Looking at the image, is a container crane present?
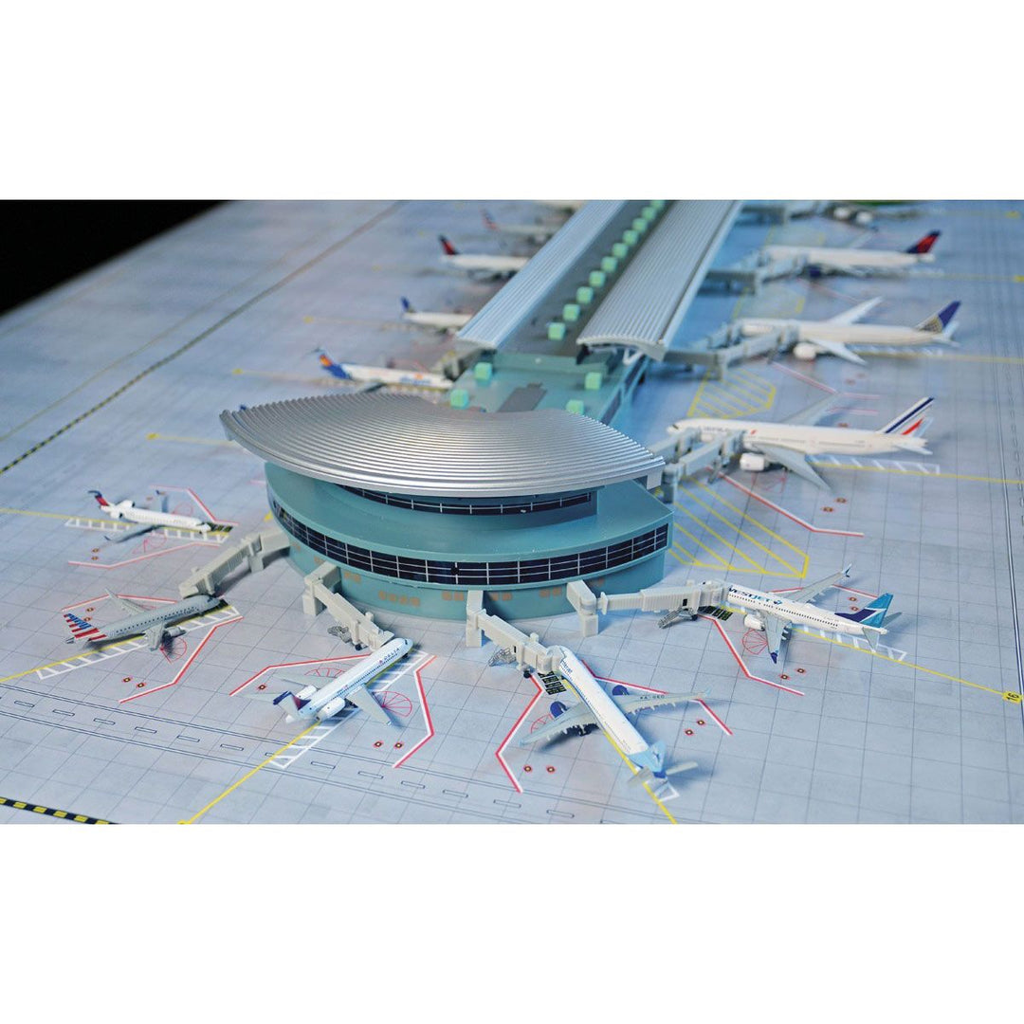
No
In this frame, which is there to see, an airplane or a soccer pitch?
airplane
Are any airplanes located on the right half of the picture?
Yes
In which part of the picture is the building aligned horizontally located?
center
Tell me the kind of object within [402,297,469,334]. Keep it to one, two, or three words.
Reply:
airplane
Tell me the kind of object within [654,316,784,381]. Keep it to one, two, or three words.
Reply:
jet bridge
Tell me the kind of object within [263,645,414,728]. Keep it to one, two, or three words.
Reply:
airplane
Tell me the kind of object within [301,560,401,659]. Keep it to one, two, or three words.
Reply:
jet bridge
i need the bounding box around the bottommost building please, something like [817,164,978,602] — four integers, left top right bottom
[219,391,676,618]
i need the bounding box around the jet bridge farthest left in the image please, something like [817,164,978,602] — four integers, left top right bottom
[180,526,292,603]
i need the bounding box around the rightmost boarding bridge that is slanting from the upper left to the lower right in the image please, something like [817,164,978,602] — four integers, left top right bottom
[465,589,565,682]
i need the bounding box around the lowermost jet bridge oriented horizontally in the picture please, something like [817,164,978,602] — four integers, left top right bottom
[565,579,735,639]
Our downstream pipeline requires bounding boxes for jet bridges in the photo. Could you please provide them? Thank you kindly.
[654,316,784,381]
[565,579,735,639]
[180,526,292,603]
[433,346,484,383]
[465,589,565,682]
[708,243,809,294]
[301,560,401,659]
[632,421,747,507]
